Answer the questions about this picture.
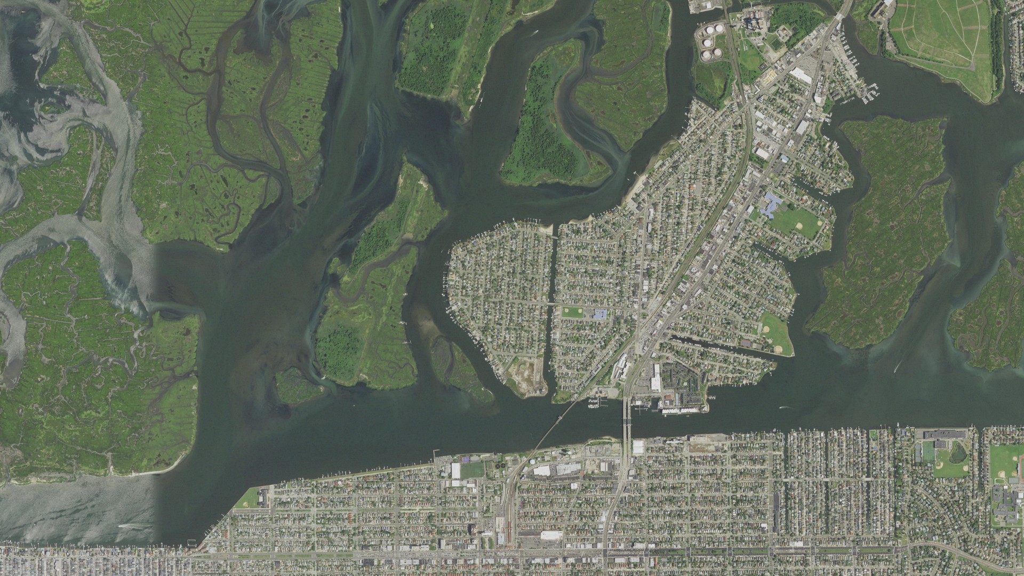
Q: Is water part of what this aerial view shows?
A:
Yes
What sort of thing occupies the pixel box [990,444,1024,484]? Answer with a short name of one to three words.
sports field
